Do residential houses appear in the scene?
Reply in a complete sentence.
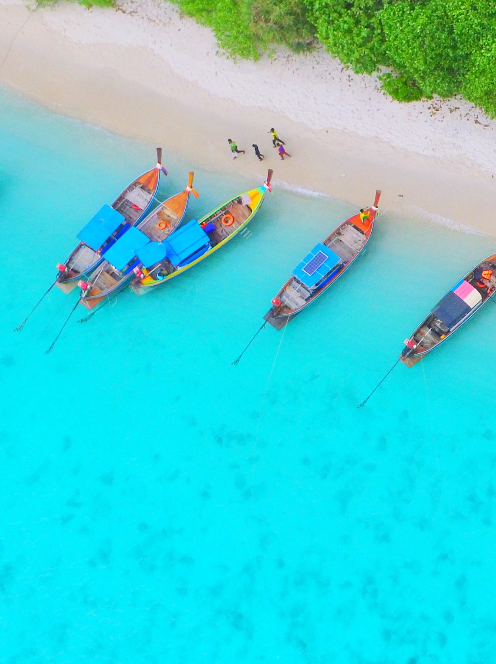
No, I can't see a single residential house in this photo.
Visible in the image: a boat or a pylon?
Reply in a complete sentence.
I can see a boat in this picture.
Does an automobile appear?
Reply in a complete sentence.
No, there's no automobile here.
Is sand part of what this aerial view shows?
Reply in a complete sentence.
Yes, there is sand in the image.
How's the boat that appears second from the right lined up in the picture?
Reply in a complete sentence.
The boat that appears second from the right has been laid out diagonally relative to the frame.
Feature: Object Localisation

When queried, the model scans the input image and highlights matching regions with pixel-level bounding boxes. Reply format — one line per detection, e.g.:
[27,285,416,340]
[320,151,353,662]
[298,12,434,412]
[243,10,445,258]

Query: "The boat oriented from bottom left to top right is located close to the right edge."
[357,253,496,411]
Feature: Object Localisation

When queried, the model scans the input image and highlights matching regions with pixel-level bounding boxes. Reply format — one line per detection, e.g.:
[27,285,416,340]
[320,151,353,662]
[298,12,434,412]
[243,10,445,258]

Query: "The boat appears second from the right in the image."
[230,190,384,367]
